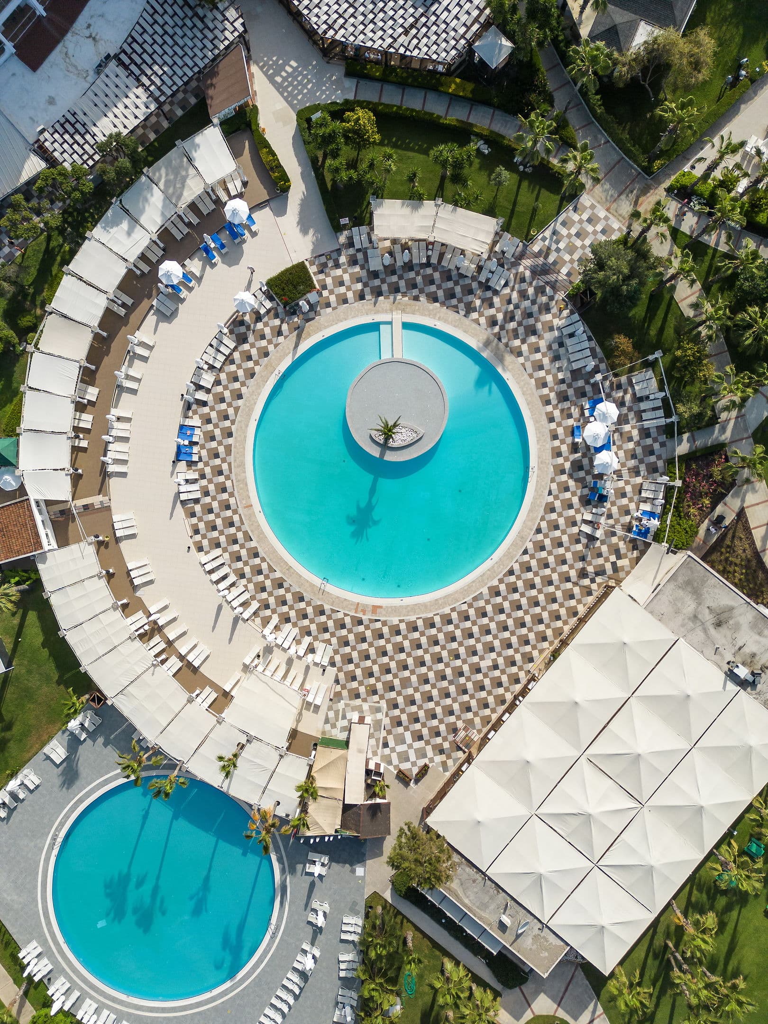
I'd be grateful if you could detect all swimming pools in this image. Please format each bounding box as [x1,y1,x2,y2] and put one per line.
[231,300,551,620]
[39,762,289,1013]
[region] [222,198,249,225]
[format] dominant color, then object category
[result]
white umbrella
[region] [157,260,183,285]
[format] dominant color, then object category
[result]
white umbrella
